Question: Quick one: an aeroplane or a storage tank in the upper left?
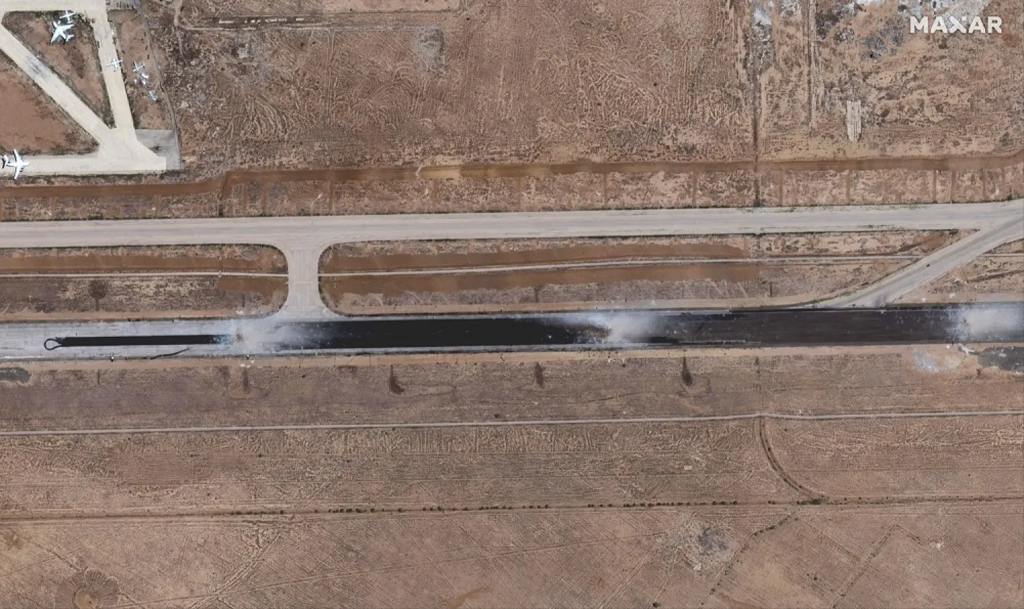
aeroplane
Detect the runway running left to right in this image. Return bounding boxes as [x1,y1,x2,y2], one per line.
[0,302,1024,361]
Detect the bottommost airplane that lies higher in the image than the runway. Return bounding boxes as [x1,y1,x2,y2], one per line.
[3,150,31,179]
